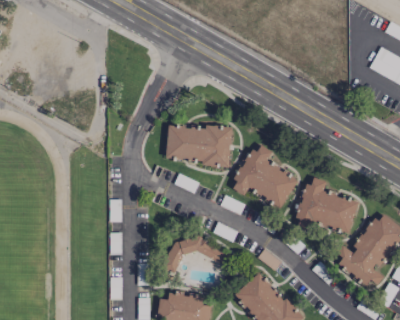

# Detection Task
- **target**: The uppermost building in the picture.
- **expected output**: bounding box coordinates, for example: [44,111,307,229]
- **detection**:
[166,126,234,169]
